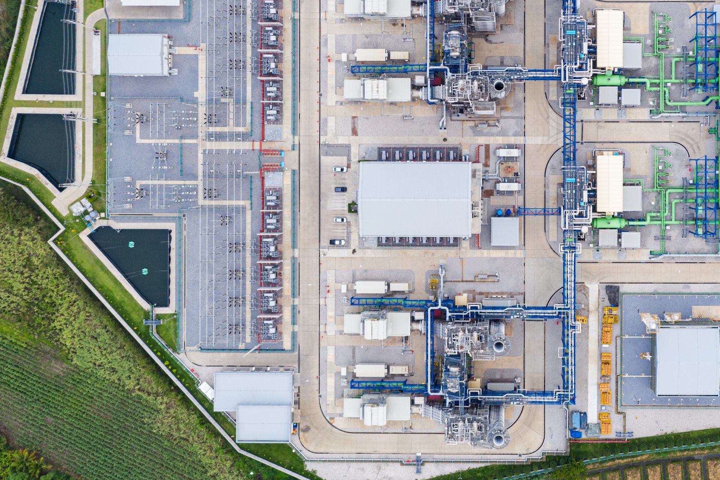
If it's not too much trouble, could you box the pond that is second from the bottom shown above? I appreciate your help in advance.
[0,107,82,197]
